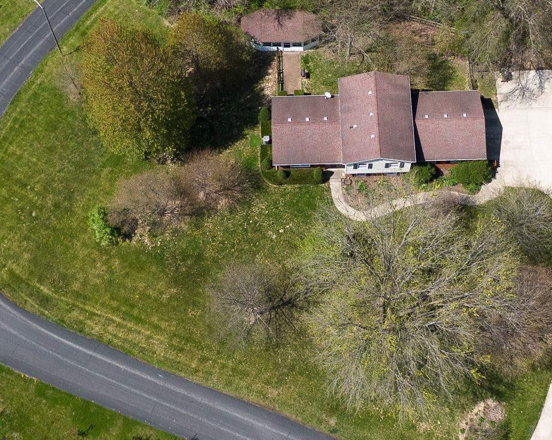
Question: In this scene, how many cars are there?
0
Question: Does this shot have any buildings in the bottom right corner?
No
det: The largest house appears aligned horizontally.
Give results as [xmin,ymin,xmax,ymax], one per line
[271,69,488,176]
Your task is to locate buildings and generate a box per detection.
[240,8,323,51]
[271,69,488,176]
